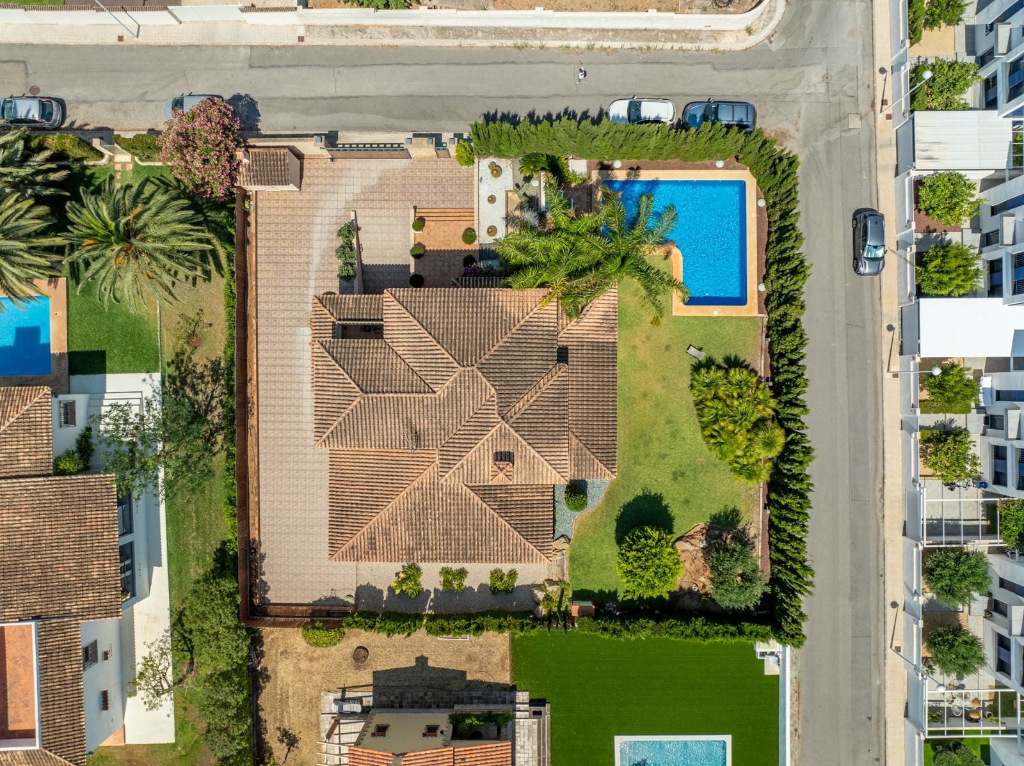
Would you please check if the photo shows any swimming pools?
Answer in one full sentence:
Yes, a swimming pool can be made out from above.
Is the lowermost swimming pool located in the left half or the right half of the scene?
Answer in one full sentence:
The lowermost swimming pool is on the right side of the image.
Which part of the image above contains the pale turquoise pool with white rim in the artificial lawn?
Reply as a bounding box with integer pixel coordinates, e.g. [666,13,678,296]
[623,743,725,766]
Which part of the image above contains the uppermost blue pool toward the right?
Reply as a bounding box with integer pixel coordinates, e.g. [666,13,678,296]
[603,180,747,305]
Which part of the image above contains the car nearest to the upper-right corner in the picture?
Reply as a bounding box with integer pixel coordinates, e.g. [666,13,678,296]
[850,210,888,277]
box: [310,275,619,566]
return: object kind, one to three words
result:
house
